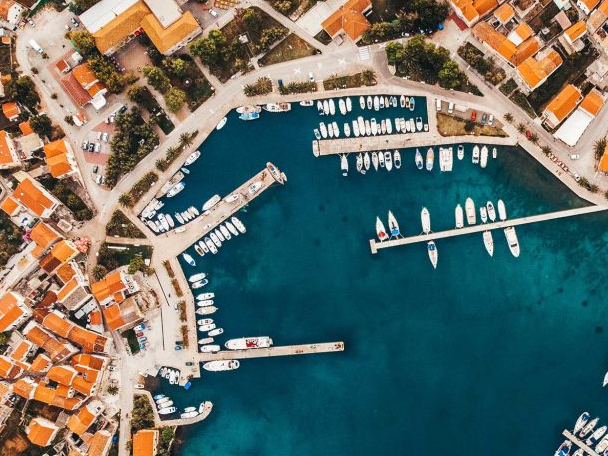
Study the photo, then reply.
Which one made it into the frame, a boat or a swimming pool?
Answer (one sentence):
It is a boat that can be seen here.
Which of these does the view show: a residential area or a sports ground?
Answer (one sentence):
The picture captures a residential area.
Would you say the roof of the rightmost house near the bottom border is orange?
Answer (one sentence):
Yes, the roof of the rightmost house near the bottom border is orange.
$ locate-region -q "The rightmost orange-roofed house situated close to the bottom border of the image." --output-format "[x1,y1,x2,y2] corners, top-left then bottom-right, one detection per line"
[133,430,159,456]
